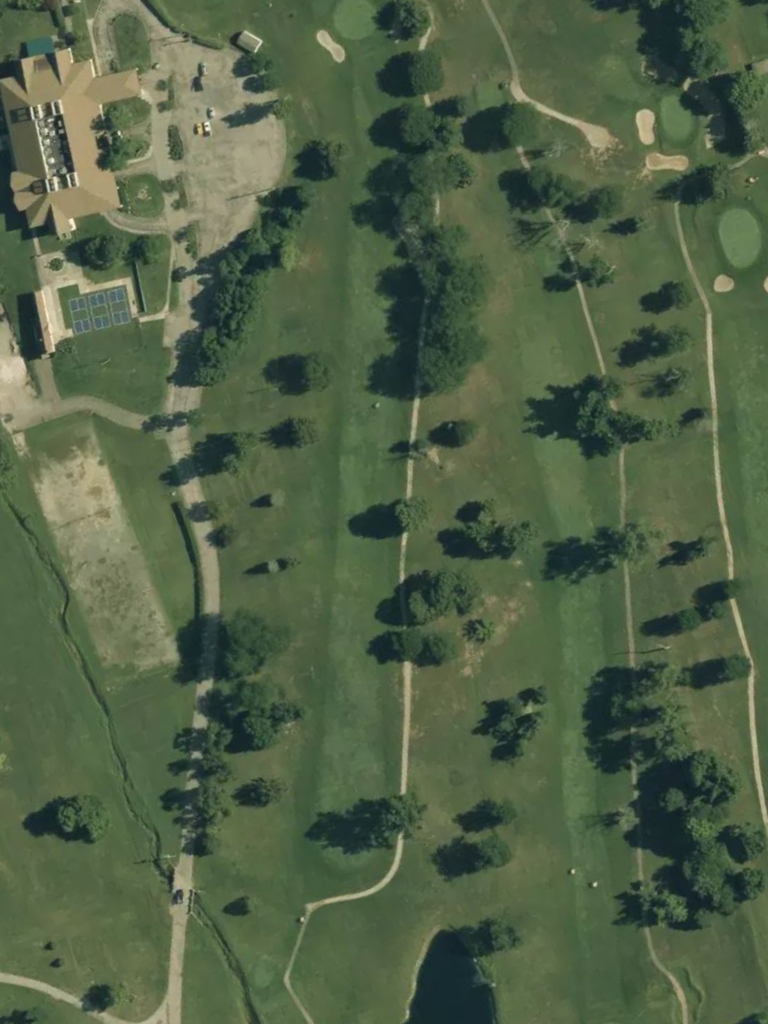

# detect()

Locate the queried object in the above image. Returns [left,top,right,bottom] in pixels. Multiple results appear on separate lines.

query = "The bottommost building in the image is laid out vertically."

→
[35,291,56,358]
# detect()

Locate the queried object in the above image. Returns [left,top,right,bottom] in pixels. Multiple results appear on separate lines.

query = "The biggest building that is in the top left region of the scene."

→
[1,48,140,241]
